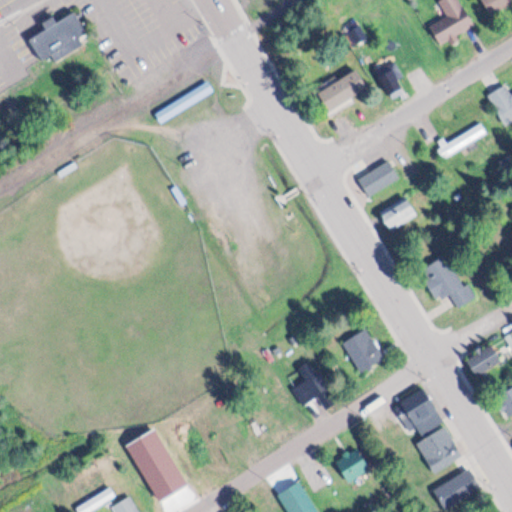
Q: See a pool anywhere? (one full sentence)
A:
No, the picture doesn't show any pool.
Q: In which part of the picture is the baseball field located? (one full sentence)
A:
The baseball field is in the left part of the image.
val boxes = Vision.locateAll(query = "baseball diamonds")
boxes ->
[0,137,226,437]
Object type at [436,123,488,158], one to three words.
house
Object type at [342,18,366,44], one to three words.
shed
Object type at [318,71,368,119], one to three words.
house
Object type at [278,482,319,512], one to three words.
building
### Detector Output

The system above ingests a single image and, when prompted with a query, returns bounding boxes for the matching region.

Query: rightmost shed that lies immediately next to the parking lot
[155,80,214,125]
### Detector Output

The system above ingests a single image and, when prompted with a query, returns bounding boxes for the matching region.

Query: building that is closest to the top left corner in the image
[28,13,88,62]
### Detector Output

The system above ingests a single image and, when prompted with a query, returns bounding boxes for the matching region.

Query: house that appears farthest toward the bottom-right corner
[434,471,479,510]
